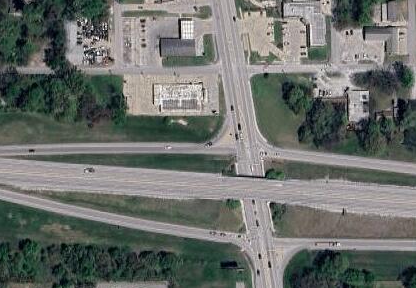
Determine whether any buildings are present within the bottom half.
No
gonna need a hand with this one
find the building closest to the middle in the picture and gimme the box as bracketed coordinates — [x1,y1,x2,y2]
[154,84,203,105]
